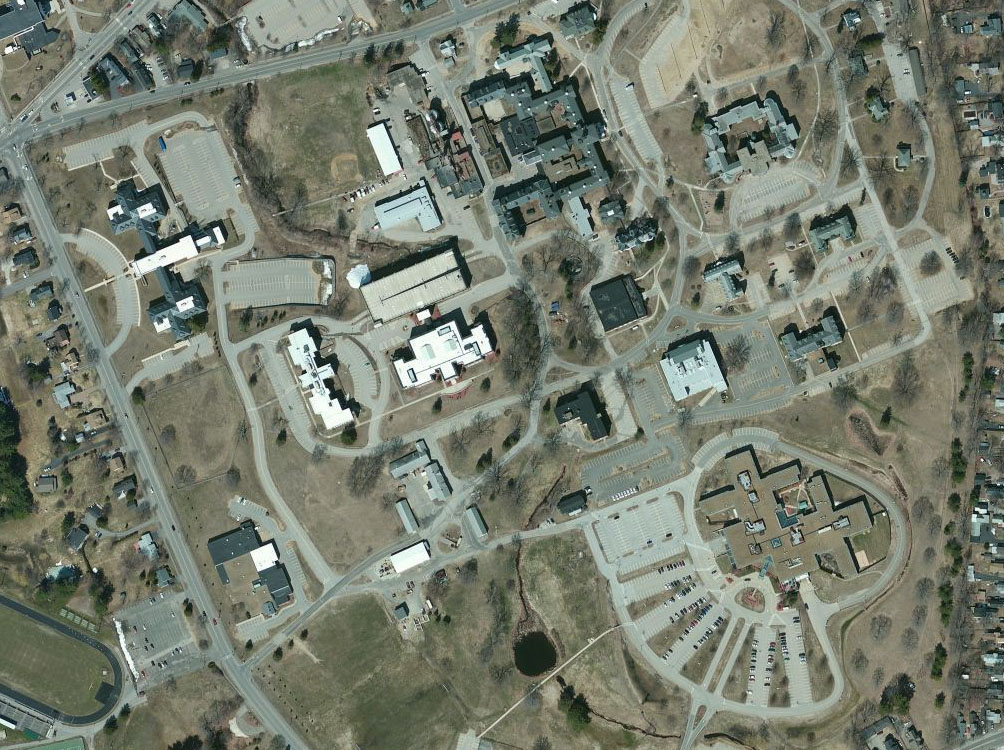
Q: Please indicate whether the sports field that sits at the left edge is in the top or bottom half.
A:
bottom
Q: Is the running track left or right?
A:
left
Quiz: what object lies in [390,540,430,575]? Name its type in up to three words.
shed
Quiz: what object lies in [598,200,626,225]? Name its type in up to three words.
house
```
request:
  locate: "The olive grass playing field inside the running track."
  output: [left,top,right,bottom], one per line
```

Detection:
[0,605,111,713]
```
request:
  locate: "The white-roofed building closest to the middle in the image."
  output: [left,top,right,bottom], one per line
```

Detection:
[394,321,492,388]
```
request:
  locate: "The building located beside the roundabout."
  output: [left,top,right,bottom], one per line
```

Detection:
[699,450,873,584]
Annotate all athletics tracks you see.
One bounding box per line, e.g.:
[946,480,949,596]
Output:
[0,592,123,725]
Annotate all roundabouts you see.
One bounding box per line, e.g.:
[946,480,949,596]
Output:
[730,575,777,622]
